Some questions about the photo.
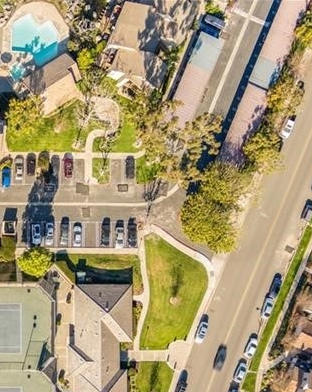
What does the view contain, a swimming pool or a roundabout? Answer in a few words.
swimming pool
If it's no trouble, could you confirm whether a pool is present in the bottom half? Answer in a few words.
No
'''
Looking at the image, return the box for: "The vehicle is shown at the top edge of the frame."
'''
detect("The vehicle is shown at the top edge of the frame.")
[203,12,229,28]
